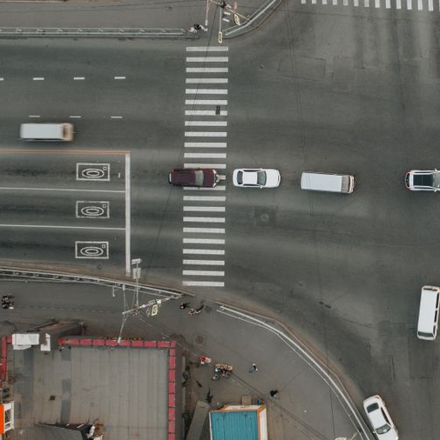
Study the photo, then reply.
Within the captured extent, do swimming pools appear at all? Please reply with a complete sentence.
No, there is no swimming pool in the image.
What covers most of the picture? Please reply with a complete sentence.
Most of the picture is covered by paved ground.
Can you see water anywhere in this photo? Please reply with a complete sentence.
No, there's no water in this view.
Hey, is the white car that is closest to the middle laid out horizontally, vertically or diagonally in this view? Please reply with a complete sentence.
What the image shows is the white car that is closest to the middle lying horizontally.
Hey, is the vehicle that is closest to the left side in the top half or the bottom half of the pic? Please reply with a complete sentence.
It is in the top half that the vehicle that is closest to the left side appears.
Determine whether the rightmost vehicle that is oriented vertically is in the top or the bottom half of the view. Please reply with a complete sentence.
You can find the rightmost vehicle that is oriented vertically in the bottom half.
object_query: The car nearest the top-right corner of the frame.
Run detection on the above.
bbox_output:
[405,169,440,192]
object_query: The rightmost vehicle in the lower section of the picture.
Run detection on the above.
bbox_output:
[415,284,440,340]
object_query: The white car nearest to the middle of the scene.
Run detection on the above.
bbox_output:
[232,167,282,189]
